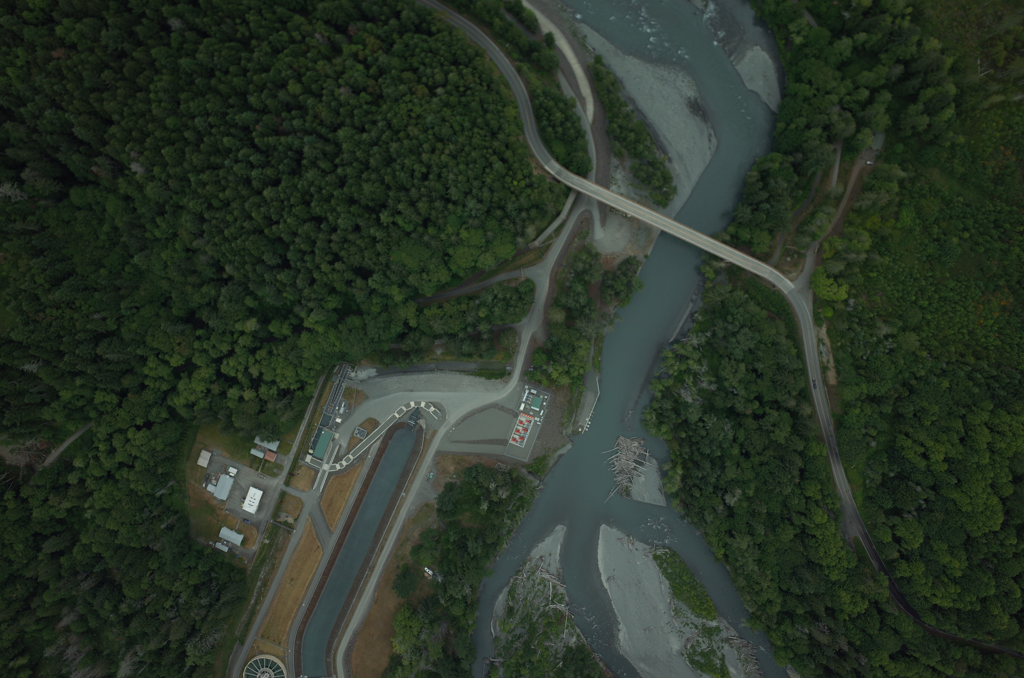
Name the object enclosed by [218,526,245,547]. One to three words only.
house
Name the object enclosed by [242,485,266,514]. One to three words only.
building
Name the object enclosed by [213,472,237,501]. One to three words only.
building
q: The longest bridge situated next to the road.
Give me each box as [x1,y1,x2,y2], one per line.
[544,157,796,297]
